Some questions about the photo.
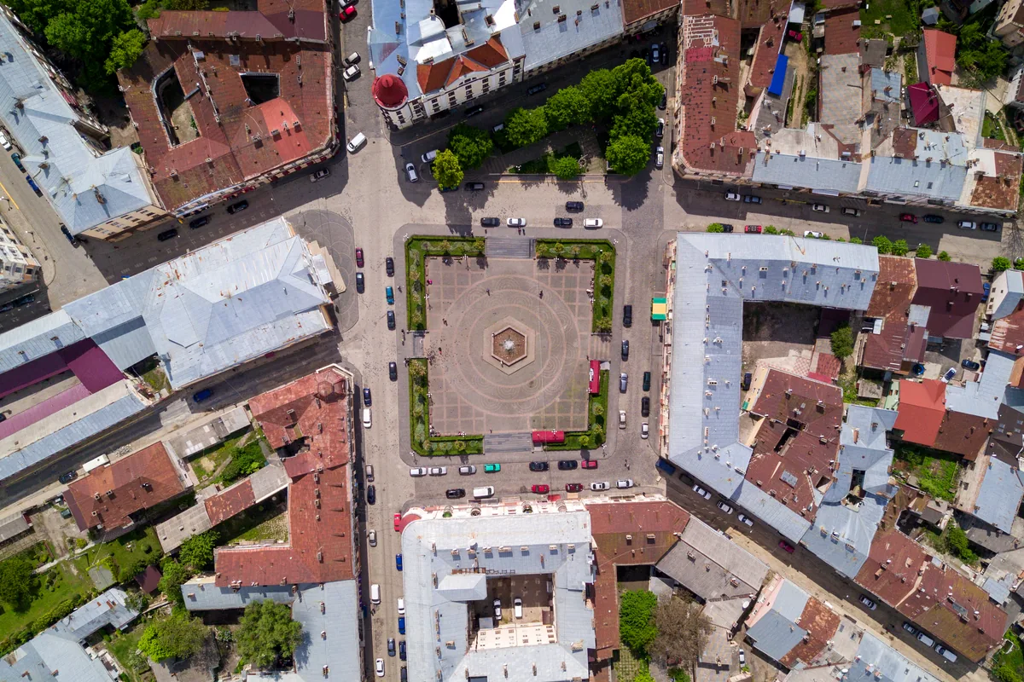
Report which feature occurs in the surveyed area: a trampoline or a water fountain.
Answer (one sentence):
This aerial view contains a water fountain.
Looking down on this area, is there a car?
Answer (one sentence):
Yes, the image includes a car.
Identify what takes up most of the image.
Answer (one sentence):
The largest share of the image is taken up by buildings.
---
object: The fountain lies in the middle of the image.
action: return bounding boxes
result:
[483,316,535,376]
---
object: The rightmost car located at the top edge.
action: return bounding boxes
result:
[786,29,803,43]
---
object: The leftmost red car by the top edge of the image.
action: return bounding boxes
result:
[339,6,358,21]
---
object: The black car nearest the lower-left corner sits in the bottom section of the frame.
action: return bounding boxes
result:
[59,470,80,483]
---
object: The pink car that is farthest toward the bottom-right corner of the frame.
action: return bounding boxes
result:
[777,539,794,553]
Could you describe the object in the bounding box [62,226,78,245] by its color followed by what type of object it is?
black car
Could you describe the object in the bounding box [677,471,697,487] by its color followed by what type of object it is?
black car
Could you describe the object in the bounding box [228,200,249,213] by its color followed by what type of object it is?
black vehicle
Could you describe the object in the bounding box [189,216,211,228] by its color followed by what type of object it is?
black vehicle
